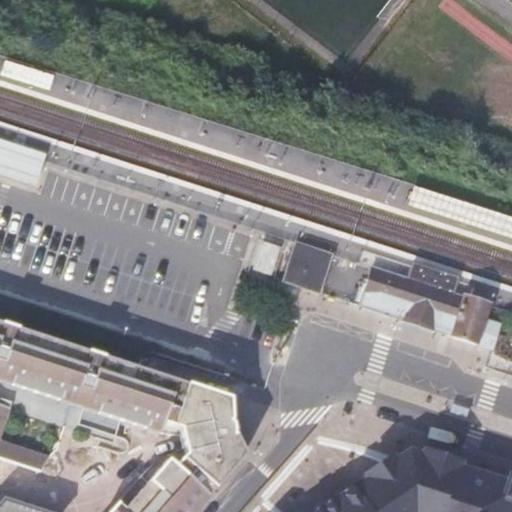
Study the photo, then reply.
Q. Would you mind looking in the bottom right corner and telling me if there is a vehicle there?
Yes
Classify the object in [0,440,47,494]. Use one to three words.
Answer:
house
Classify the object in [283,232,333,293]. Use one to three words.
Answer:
building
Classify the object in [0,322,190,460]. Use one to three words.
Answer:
building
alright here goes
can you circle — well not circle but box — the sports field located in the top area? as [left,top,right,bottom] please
[248,0,410,66]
